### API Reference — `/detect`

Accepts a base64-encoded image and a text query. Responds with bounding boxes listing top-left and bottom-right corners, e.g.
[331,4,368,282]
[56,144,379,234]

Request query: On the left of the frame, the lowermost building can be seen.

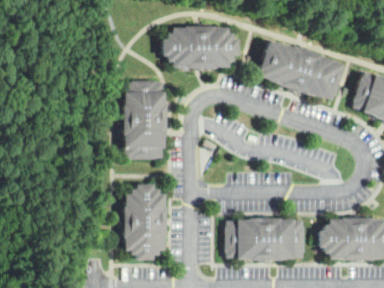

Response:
[123,184,166,260]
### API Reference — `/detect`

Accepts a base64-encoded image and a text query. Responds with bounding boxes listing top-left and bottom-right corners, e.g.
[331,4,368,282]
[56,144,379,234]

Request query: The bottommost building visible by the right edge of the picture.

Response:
[318,218,384,260]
